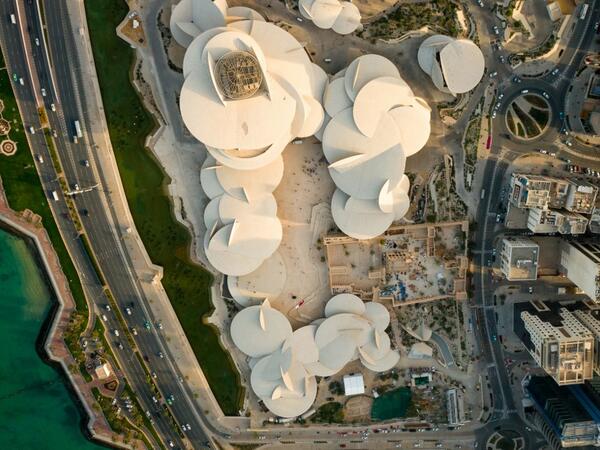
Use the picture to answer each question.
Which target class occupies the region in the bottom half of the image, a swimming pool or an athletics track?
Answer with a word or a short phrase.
swimming pool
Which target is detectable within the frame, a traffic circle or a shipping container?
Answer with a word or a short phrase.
traffic circle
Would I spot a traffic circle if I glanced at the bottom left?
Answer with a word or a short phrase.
No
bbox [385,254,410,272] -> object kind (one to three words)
building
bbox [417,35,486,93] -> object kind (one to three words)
building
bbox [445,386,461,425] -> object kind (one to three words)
shed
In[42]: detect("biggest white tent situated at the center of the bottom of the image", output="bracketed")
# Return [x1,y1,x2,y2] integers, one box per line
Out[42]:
[343,372,364,396]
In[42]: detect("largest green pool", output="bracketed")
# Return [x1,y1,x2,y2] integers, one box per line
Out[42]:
[372,386,412,421]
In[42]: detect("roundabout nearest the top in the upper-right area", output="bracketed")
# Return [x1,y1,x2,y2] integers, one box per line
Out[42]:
[492,81,565,151]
